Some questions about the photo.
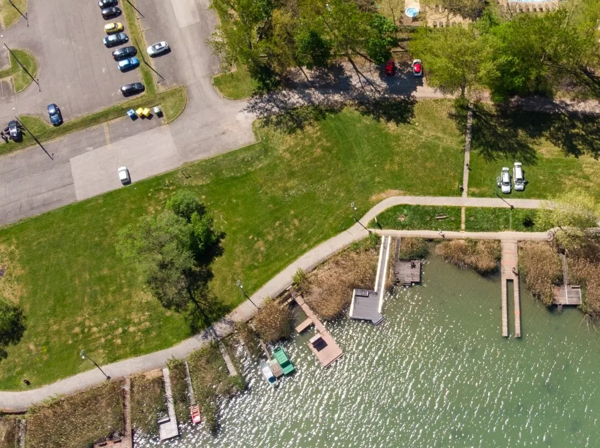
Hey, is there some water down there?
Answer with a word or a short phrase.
Yes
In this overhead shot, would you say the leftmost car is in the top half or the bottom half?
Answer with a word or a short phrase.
top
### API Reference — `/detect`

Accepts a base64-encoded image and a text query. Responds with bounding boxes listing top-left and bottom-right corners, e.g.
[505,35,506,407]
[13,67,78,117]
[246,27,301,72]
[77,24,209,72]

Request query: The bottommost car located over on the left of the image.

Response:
[116,163,132,189]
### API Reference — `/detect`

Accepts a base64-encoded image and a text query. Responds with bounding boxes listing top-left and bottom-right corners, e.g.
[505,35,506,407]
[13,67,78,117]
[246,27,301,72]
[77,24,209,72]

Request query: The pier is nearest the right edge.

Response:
[553,252,582,313]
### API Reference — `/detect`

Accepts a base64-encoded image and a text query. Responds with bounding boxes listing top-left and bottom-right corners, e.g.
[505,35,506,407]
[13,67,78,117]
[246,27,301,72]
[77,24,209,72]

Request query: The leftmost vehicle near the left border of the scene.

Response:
[0,117,25,144]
